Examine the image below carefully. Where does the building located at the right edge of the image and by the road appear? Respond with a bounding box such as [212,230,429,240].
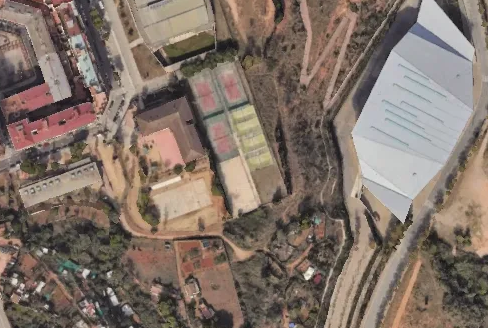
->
[352,0,474,222]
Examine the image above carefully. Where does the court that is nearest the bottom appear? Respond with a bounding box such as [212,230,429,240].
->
[154,179,212,222]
